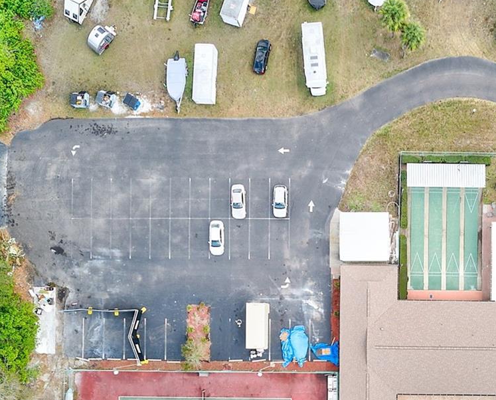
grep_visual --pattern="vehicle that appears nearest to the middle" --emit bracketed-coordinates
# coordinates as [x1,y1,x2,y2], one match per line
[230,184,246,218]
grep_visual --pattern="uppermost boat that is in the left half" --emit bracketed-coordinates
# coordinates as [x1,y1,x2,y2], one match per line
[189,0,208,25]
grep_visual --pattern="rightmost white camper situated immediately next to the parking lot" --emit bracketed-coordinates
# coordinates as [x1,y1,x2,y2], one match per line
[302,16,328,100]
